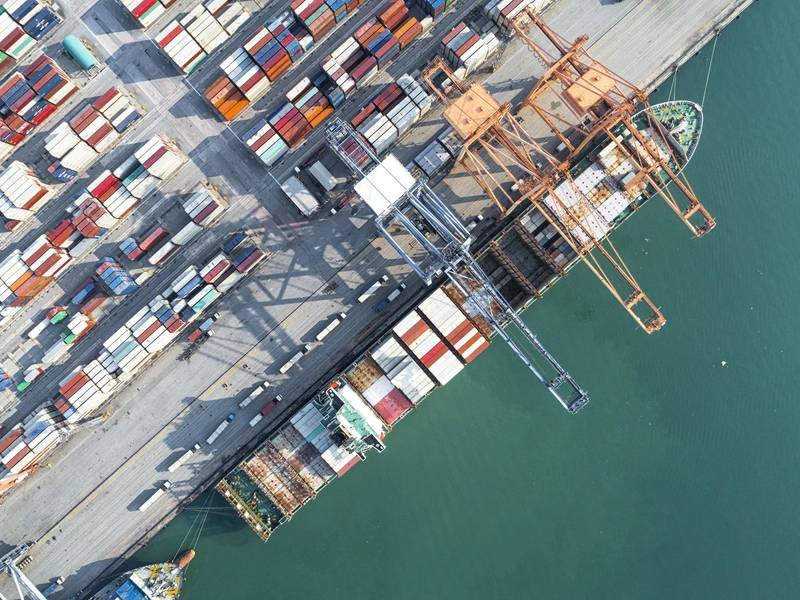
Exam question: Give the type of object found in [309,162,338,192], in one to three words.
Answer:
shed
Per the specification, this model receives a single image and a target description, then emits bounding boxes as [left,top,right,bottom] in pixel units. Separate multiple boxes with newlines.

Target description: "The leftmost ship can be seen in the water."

[89,547,197,600]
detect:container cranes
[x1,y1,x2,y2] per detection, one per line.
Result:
[506,0,722,242]
[0,543,48,600]
[317,112,598,417]
[418,55,677,339]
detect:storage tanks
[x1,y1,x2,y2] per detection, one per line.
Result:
[58,33,107,81]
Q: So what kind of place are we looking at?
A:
port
